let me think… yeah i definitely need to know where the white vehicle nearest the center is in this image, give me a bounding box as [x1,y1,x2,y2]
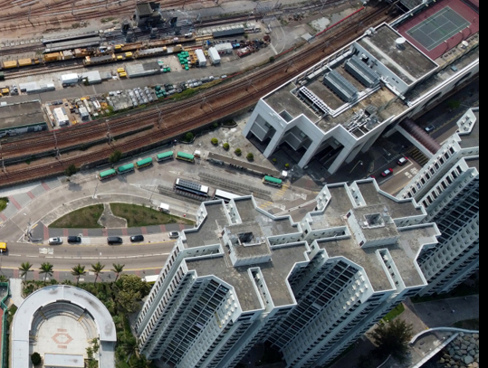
[215,187,247,203]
